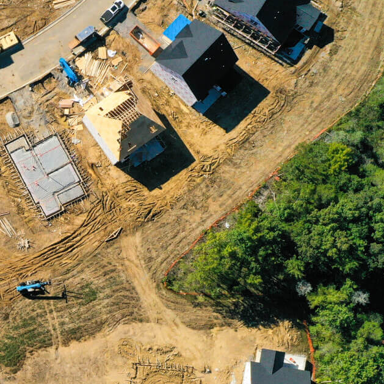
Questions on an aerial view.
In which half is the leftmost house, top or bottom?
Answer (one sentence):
The top half of the photo is where the leftmost house is.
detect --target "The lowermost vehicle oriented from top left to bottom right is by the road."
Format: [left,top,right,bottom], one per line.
[60,57,88,95]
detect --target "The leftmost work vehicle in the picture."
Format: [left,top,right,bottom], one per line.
[19,280,64,296]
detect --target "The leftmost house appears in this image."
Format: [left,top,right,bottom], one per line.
[80,72,169,164]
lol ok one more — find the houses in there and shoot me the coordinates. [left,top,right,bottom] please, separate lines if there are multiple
[80,72,169,164]
[147,13,238,114]
[208,0,327,59]
[241,346,311,384]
